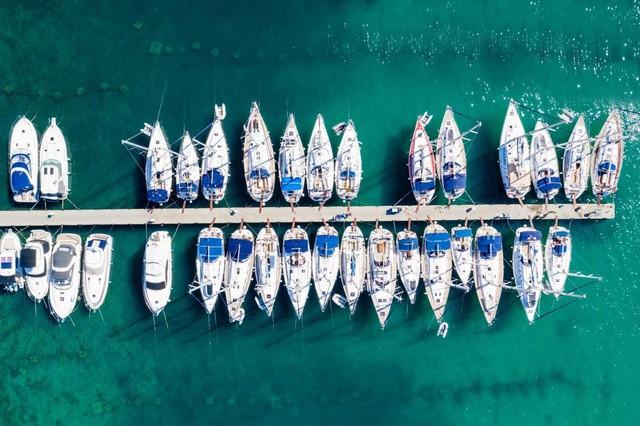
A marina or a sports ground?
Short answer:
marina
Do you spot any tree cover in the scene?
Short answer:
No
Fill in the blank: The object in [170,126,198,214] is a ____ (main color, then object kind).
white boat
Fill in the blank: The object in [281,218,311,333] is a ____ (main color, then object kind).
white boat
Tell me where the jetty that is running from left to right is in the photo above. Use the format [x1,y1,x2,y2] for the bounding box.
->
[0,202,614,226]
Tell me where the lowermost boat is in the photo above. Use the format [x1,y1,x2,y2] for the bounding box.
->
[437,323,449,340]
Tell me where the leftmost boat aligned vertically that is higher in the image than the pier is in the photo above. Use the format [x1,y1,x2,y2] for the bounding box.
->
[7,114,43,211]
